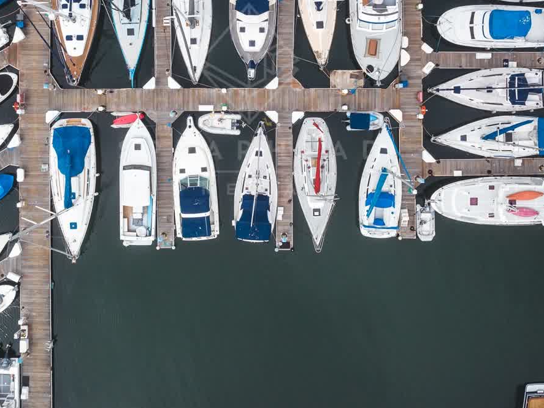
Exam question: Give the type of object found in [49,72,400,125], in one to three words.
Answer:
pier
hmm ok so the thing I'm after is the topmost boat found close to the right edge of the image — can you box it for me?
[434,4,544,48]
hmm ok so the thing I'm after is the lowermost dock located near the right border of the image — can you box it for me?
[422,158,544,176]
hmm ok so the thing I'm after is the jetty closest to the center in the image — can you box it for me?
[276,111,293,250]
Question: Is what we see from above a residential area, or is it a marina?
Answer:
marina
